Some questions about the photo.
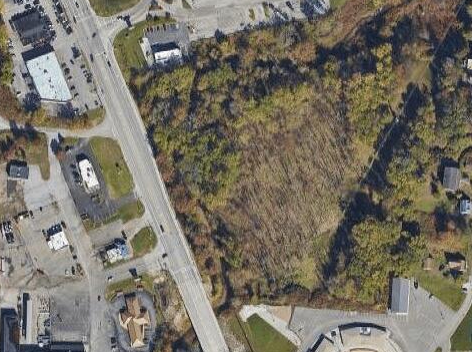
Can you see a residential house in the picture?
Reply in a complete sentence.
Yes, the photo shows a residential house.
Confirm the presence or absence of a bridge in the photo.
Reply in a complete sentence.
No, this view has no bridge in it.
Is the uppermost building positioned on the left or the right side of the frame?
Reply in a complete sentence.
You can find the uppermost building on the left side of the picture.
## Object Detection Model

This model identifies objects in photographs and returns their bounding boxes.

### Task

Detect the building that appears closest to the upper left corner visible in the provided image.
[15,10,52,45]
